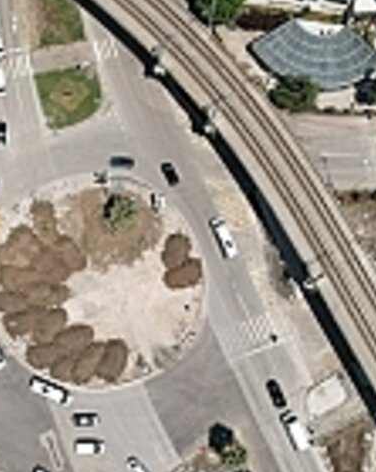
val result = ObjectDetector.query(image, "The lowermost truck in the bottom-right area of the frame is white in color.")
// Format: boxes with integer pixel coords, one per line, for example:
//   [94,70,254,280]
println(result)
[278,407,317,457]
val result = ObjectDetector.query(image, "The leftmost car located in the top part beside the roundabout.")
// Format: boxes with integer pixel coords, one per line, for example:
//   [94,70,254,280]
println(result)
[108,154,135,168]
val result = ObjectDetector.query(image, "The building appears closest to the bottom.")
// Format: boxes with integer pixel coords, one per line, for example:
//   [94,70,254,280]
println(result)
[242,17,376,93]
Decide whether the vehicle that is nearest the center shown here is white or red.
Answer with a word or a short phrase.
white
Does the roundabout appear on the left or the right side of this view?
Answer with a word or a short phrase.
left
